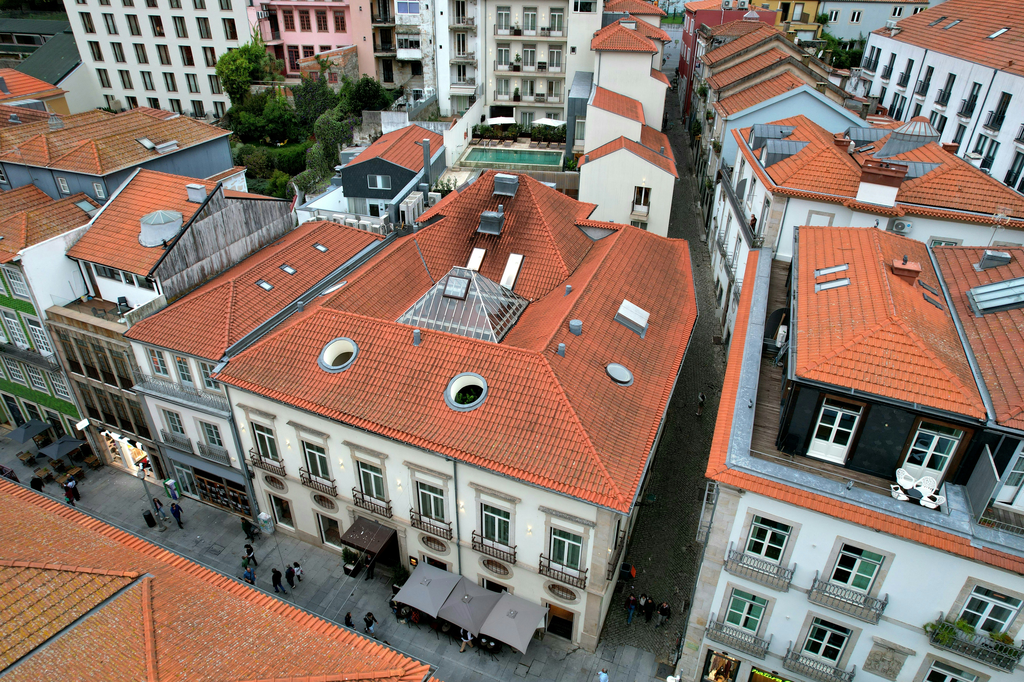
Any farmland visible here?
No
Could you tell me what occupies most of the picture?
buildings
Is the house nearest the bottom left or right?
left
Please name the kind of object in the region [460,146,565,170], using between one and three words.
swimming pool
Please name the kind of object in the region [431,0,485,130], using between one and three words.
house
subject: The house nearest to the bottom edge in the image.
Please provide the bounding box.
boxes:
[0,473,437,682]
